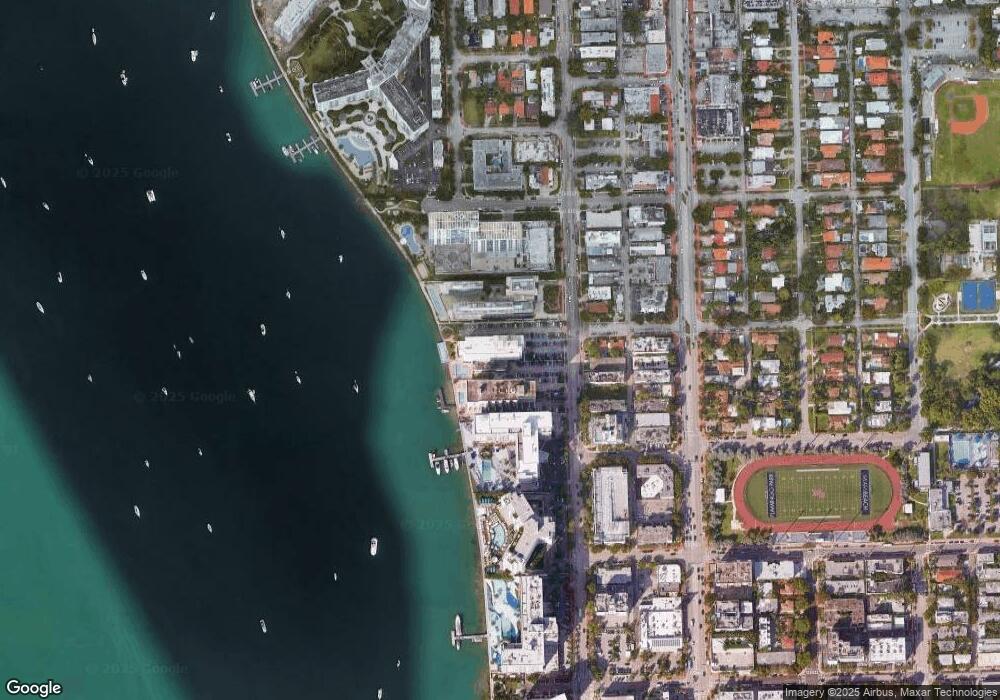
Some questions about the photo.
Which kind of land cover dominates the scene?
water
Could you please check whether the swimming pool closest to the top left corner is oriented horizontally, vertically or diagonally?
diagonally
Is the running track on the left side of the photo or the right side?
right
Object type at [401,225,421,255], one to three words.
swimming pool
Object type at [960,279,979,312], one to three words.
sports court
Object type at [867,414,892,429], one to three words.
house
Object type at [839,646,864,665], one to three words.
building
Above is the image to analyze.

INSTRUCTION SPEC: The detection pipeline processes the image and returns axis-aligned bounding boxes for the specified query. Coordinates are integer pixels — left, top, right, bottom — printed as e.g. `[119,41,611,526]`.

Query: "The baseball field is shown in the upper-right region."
[933,81,1000,187]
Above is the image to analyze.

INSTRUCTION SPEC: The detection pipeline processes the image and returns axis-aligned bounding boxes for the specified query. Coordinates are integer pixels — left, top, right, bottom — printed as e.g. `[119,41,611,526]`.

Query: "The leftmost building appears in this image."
[275,0,325,50]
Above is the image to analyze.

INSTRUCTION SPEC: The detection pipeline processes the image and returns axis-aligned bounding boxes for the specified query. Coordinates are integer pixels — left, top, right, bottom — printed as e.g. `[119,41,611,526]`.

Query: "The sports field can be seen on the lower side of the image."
[745,464,893,520]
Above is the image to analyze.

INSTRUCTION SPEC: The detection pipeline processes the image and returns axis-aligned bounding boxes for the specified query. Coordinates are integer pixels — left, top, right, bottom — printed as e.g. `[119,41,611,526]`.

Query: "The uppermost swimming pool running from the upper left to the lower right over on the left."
[336,135,376,168]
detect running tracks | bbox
[734,453,904,532]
